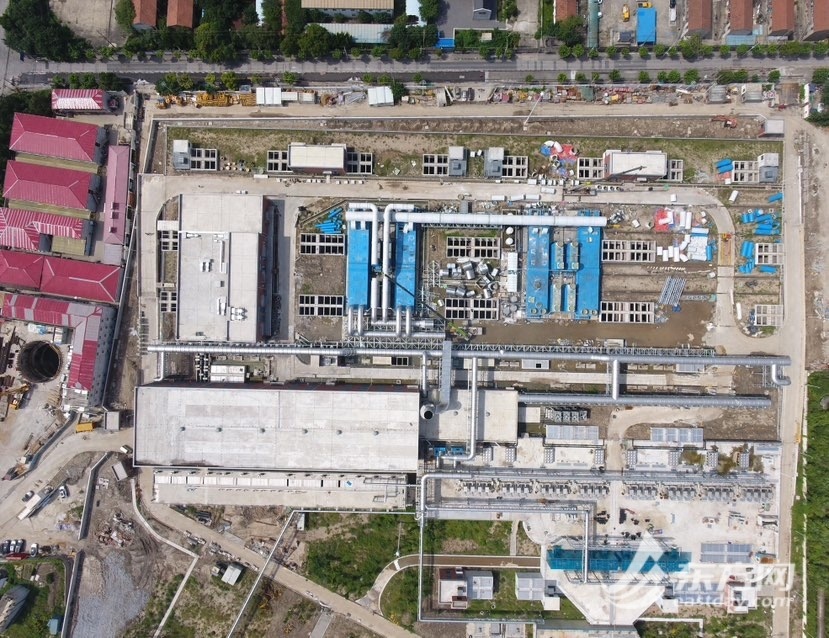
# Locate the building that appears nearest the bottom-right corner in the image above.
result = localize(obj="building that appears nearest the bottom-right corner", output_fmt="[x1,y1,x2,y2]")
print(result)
[718,571,759,613]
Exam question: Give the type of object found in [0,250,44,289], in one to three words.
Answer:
house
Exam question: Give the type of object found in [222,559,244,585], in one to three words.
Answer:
shed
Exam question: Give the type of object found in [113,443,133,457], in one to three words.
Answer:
vehicle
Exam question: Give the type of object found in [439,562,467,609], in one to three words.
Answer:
building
